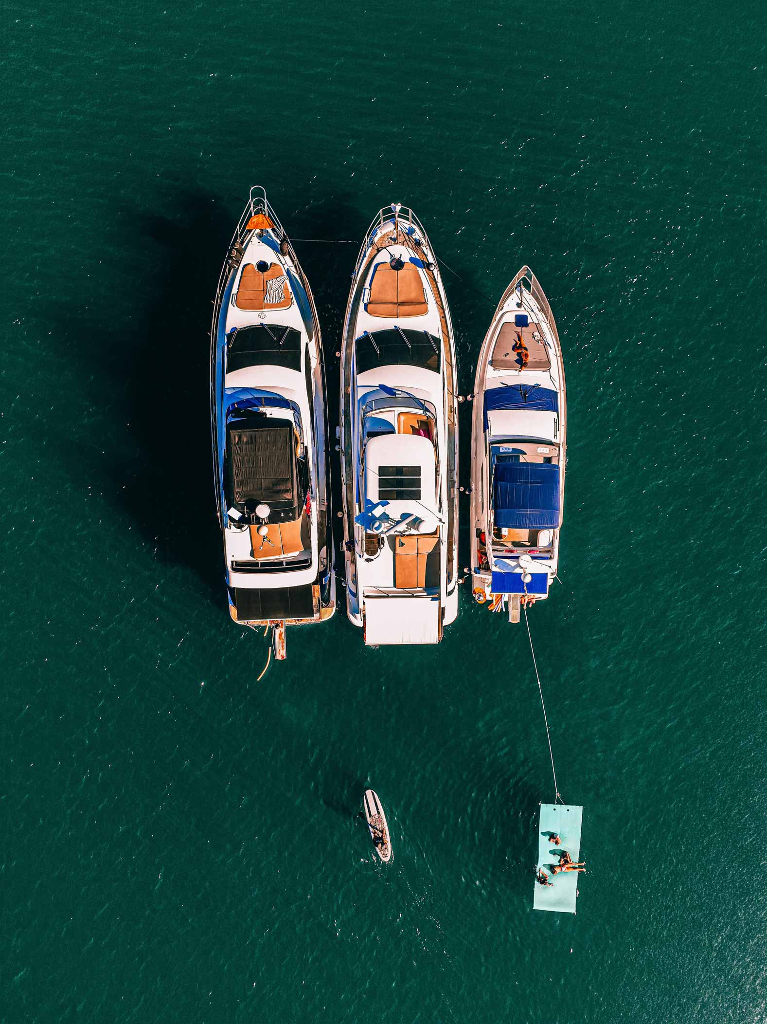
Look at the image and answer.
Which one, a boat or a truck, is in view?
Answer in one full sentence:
Visible in the photo is a boat.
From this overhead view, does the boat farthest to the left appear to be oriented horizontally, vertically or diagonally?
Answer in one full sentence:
I'd say the boat farthest to the left is aligned vertically in the picture.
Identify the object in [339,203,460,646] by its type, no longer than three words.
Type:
boat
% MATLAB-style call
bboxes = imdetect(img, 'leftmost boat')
[209,185,337,660]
